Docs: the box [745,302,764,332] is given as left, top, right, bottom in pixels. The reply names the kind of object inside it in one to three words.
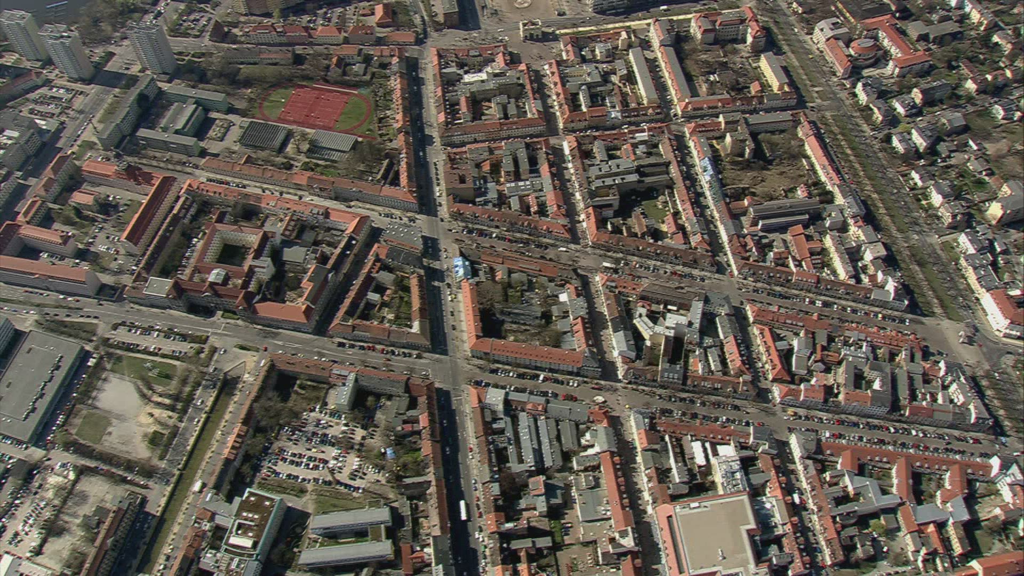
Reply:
house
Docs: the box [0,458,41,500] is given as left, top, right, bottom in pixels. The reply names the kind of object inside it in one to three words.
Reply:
building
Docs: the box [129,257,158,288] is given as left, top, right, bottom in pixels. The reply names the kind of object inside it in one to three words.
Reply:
house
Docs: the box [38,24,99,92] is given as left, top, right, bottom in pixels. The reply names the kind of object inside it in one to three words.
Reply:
building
